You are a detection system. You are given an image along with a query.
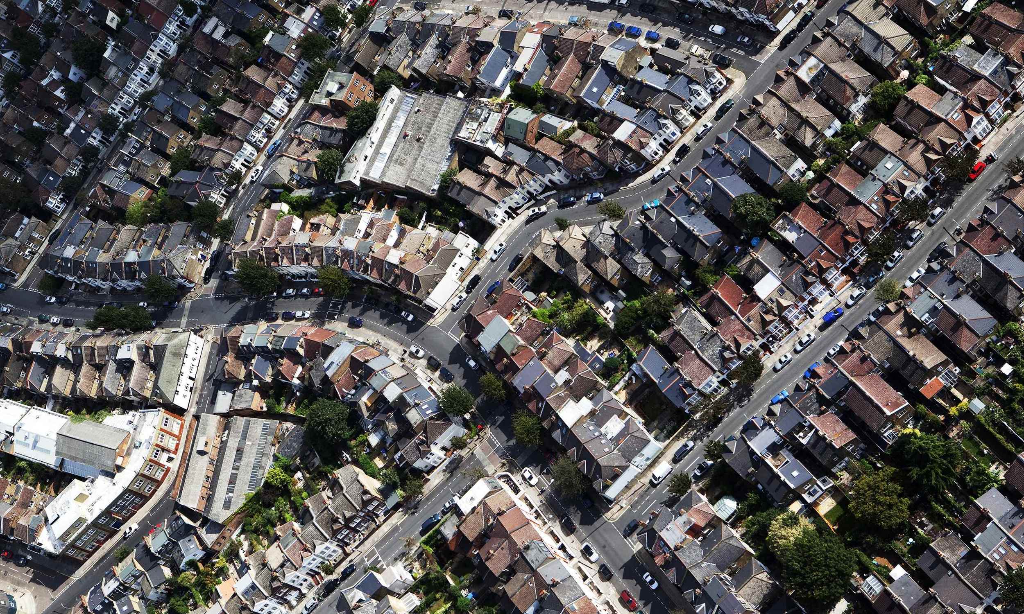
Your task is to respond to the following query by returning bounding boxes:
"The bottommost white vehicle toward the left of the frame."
[303,595,320,613]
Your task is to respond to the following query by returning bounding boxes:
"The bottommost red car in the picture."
[619,589,639,611]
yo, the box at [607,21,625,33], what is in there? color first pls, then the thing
blue vehicle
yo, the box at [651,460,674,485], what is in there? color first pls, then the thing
white vehicle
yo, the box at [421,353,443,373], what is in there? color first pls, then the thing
black vehicle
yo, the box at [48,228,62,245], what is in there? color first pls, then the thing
black car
